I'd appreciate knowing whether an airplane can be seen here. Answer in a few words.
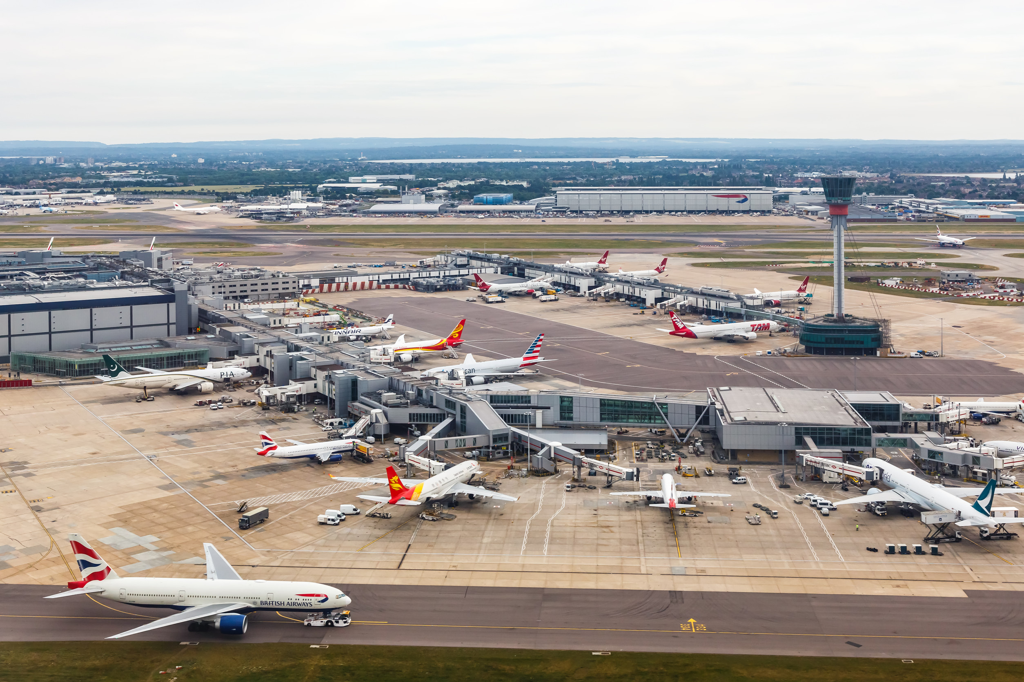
Yes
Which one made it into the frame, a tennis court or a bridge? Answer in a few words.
bridge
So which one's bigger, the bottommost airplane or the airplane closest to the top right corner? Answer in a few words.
the bottommost airplane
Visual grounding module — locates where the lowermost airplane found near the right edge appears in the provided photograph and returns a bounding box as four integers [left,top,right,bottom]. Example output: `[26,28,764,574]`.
[833,455,1024,527]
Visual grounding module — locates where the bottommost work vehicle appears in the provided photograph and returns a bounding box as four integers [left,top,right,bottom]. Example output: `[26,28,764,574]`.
[305,611,351,627]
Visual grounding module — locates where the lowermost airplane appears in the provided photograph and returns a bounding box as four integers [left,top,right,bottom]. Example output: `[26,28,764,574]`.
[42,533,352,641]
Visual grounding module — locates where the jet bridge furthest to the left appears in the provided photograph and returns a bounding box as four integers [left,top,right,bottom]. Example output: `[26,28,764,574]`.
[206,356,251,370]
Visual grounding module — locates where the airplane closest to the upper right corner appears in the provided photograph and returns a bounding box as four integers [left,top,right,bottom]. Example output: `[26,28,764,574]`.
[919,224,975,248]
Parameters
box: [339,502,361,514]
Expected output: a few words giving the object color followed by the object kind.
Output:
white vehicle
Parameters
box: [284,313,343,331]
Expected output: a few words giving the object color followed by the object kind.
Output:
white jet bridge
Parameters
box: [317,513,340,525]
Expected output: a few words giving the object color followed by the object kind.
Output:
white vehicle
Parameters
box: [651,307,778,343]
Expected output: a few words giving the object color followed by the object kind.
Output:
white airplane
